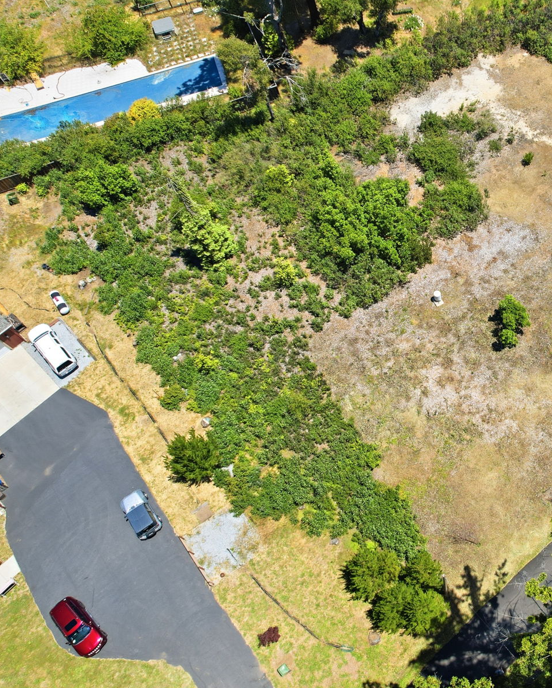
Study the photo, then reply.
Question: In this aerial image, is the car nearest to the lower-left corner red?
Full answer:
Yes, the car nearest to the lower-left corner is red.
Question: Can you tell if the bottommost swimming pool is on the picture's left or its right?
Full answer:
You can find the bottommost swimming pool on the left side of the picture.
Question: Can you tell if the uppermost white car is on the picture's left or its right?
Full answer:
The uppermost white car appears in the left half of the scene.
